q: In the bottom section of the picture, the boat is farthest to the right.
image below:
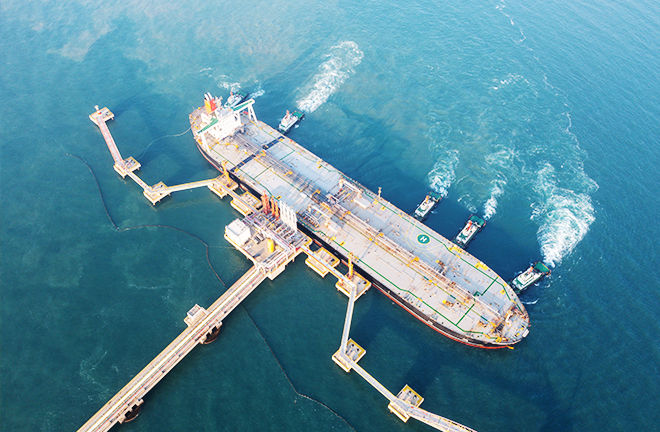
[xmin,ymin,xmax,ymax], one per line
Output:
[515,261,557,292]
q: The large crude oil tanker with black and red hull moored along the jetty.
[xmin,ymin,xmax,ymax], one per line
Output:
[186,90,532,346]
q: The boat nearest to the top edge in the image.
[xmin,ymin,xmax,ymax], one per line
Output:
[227,86,253,107]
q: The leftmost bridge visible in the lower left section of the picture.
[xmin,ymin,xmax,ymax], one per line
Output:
[68,265,269,432]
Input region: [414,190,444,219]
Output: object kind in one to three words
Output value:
boat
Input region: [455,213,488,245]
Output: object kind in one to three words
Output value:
boat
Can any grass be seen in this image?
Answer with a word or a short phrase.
No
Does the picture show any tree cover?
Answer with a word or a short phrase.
No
